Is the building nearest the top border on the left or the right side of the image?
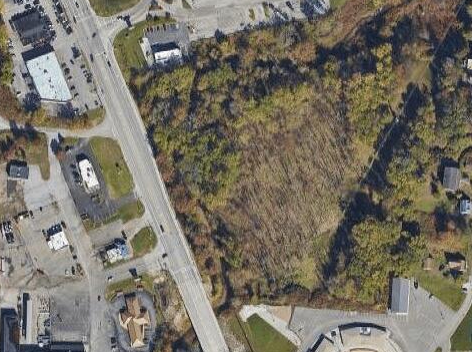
left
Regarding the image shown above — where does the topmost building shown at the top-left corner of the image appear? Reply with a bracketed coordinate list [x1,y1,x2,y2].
[15,10,52,45]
